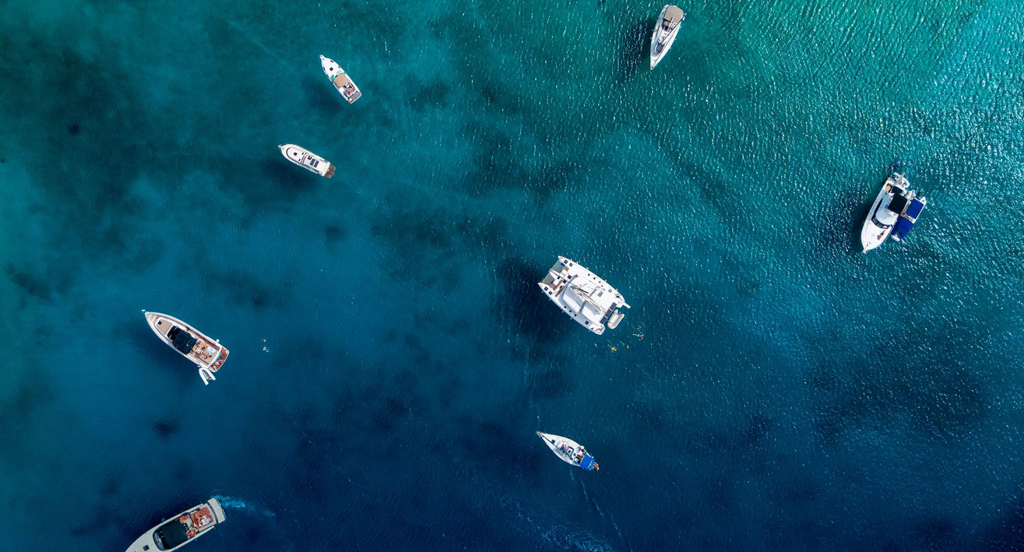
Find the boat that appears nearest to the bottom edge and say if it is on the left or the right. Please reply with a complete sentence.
The boat that appears nearest to the bottom edge is on the left side of the image.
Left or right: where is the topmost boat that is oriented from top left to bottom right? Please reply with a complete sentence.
The topmost boat that is oriented from top left to bottom right sits on the left side.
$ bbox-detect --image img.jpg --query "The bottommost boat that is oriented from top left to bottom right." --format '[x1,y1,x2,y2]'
[536,430,598,469]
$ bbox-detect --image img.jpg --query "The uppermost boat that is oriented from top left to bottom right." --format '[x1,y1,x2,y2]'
[319,54,362,105]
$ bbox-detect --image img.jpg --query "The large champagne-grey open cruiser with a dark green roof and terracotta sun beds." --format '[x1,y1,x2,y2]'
[125,497,227,552]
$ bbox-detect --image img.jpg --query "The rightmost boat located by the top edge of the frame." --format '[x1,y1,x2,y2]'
[651,3,686,70]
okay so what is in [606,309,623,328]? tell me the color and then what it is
white boat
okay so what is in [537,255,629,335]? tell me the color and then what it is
white boat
